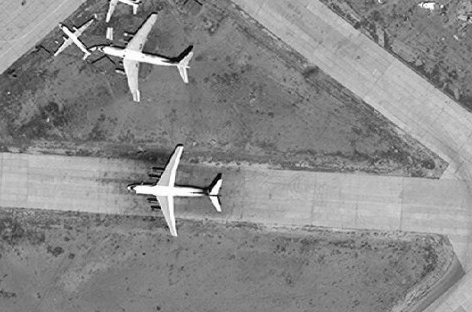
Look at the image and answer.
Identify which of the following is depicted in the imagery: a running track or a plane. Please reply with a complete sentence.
I can see a plane in this picture.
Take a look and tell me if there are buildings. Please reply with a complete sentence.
No, the picture doesn't show any building.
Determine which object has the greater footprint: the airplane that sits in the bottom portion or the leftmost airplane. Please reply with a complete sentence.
The airplane that sits in the bottom portion is bigger than the leftmost airplane.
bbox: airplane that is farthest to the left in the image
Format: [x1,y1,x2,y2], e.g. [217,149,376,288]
[51,17,94,59]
